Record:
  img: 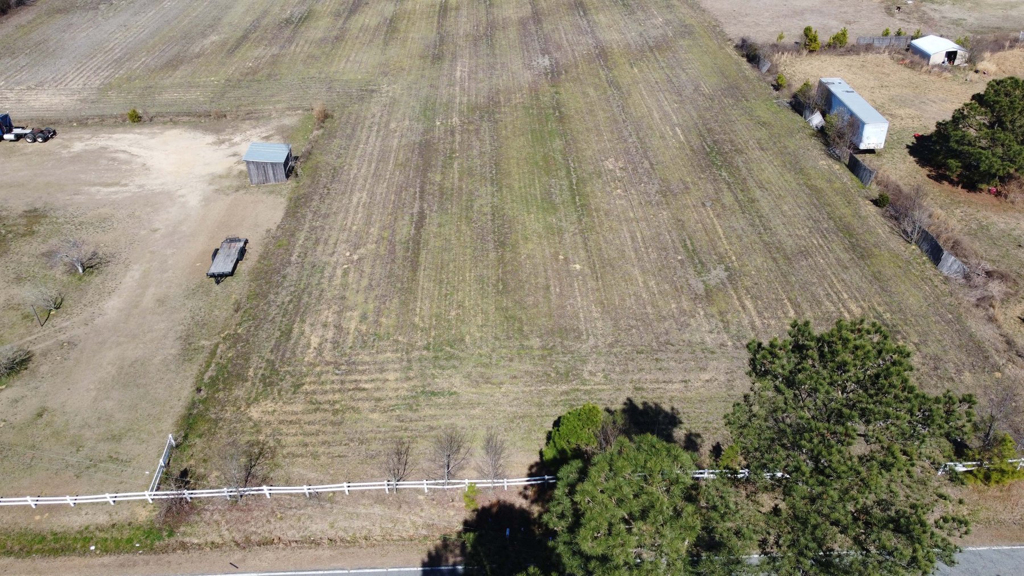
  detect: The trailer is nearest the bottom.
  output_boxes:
[205,235,246,288]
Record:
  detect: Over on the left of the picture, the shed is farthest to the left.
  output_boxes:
[240,145,291,185]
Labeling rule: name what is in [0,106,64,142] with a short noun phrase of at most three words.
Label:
truck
